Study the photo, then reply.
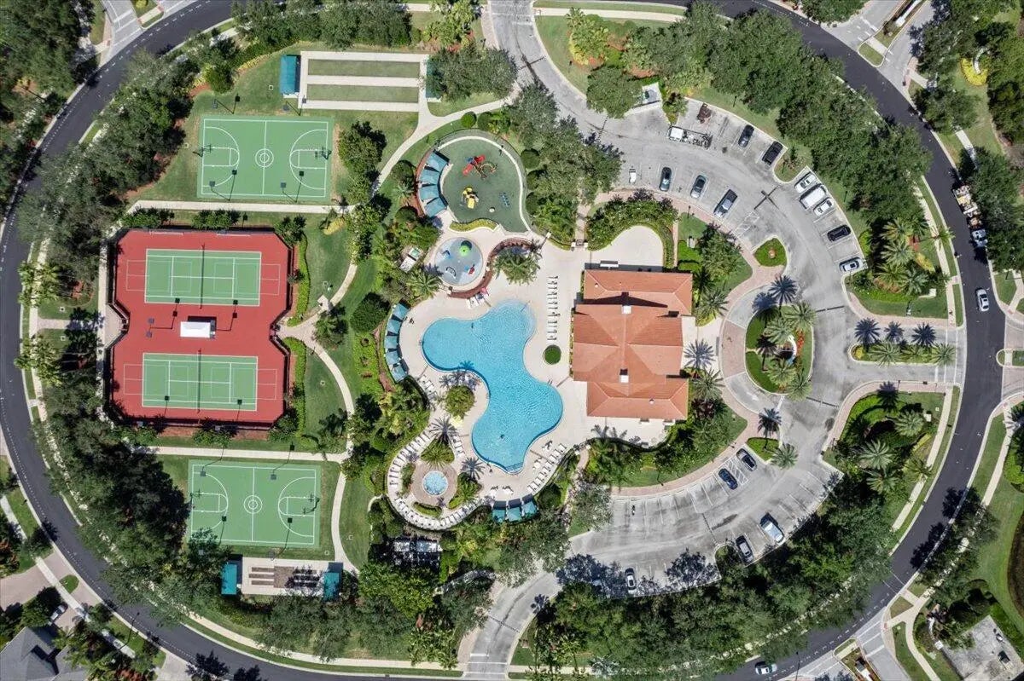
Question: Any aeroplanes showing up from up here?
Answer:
No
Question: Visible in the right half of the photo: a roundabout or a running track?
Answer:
roundabout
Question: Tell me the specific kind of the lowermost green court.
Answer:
basketball court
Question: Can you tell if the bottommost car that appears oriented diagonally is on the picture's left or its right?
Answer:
left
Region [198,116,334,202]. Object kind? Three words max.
basketball court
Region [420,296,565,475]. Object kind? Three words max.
swimming pool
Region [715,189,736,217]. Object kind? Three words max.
truck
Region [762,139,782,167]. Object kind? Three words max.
vehicle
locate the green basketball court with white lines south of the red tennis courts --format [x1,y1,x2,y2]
[186,462,322,547]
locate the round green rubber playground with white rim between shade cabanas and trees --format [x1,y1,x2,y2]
[413,125,538,232]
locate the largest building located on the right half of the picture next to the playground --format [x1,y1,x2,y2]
[573,263,693,420]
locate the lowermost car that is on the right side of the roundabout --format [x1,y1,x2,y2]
[974,288,989,313]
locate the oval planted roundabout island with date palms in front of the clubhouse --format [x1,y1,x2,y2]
[744,302,814,394]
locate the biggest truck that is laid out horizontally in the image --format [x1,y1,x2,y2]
[667,126,714,148]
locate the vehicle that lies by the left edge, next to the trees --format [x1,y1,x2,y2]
[47,603,69,625]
